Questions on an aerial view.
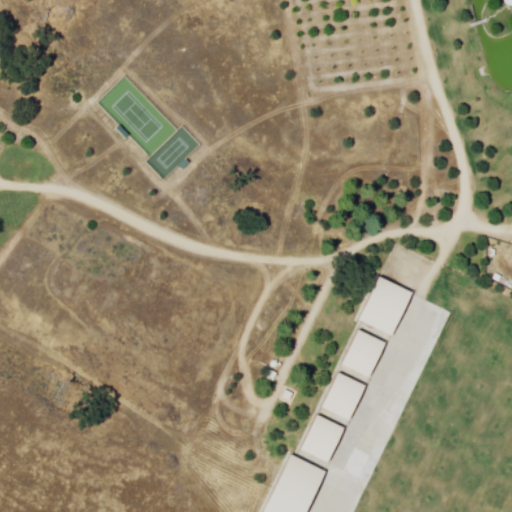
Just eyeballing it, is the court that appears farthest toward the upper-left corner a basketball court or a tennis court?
tennis court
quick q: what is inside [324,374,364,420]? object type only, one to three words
hangar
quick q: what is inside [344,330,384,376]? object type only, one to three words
hangar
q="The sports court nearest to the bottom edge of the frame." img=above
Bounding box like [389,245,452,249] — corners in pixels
[146,126,200,180]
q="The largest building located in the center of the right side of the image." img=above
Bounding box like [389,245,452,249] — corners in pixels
[358,276,412,334]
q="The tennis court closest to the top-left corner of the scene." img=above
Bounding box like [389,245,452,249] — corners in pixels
[98,76,178,156]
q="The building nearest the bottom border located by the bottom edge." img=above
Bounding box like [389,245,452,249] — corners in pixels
[266,456,327,512]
